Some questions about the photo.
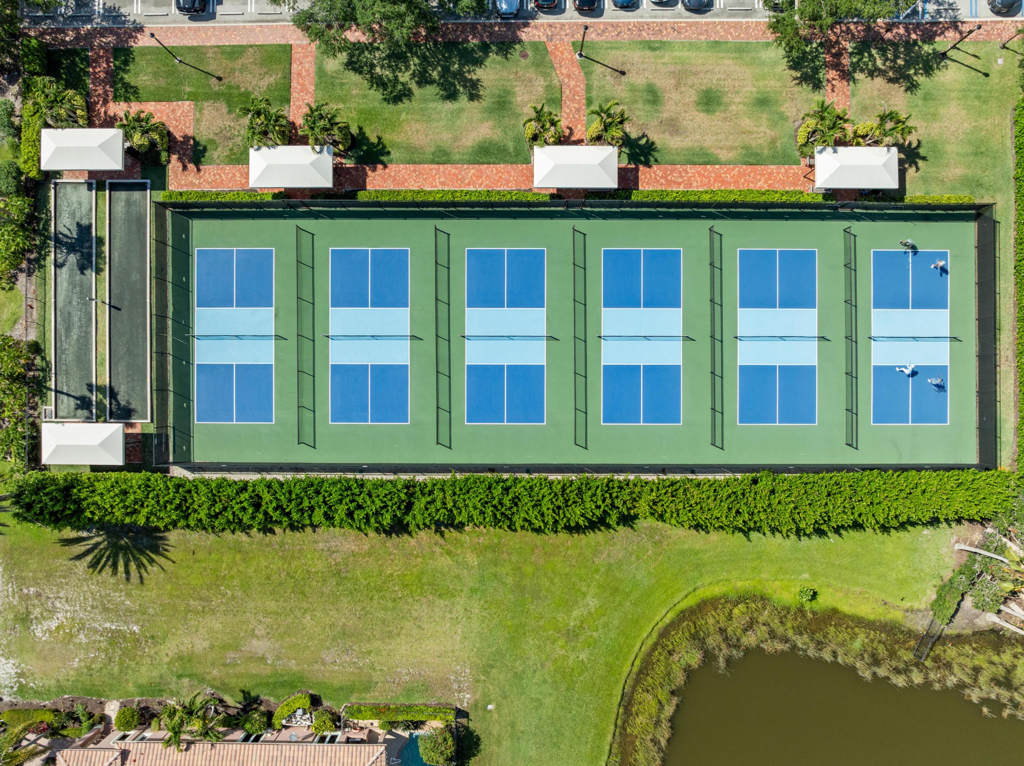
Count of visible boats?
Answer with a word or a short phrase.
0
